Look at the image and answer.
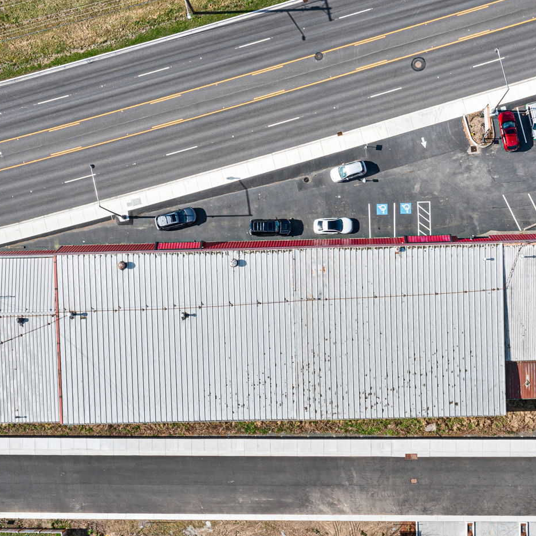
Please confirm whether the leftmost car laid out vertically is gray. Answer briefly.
No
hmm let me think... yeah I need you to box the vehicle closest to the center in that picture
[249,218,290,236]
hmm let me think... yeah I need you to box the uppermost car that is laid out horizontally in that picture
[330,159,366,181]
